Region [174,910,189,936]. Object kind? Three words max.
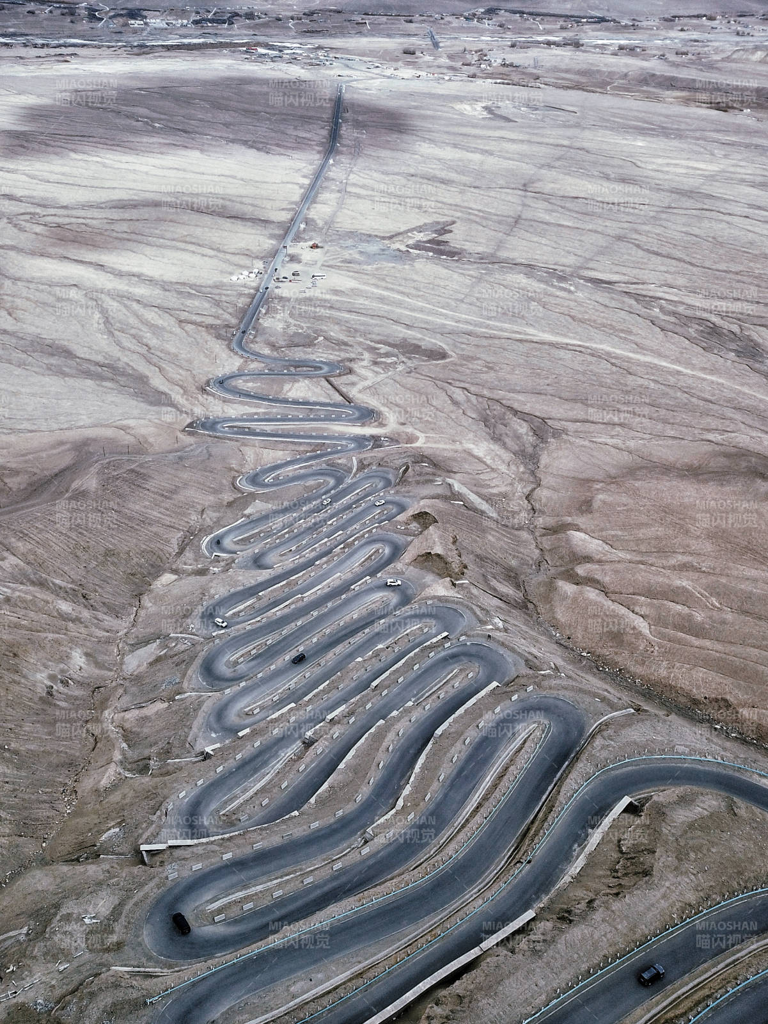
car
